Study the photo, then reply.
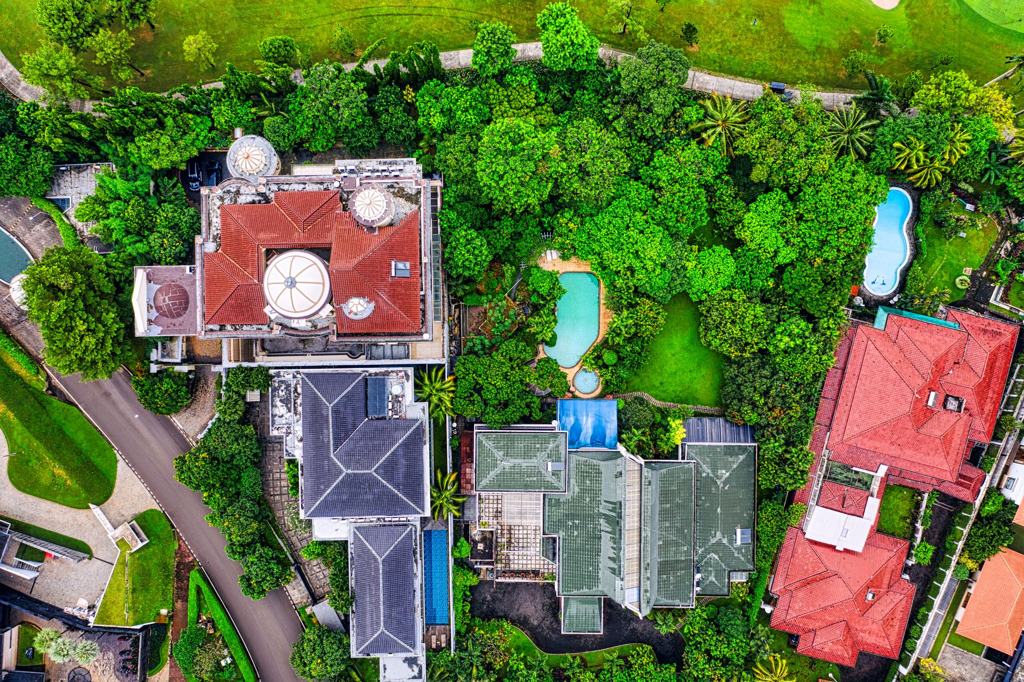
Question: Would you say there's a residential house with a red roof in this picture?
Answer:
Yes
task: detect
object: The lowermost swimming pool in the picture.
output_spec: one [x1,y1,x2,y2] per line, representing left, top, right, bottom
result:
[425,529,449,626]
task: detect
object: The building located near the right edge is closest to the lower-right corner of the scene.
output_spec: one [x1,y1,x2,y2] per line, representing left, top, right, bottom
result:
[951,552,1024,657]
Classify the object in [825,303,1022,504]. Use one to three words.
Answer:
house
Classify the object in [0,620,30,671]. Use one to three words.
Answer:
shed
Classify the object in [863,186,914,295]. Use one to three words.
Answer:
swimming pool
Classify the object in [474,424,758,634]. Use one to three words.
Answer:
building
